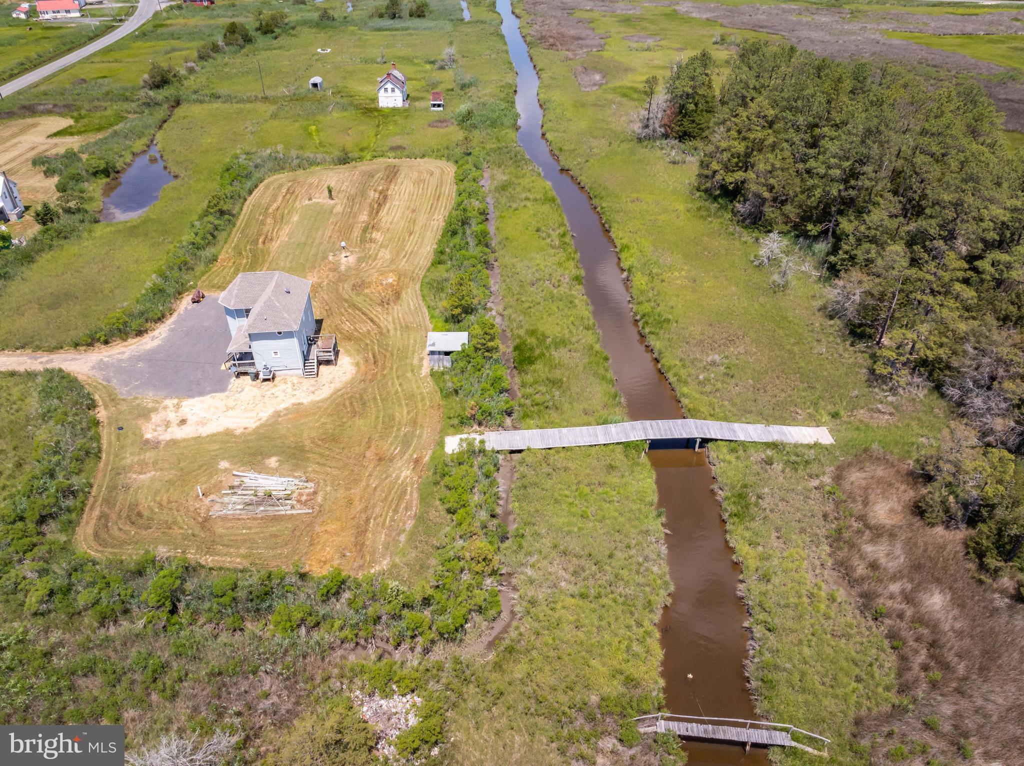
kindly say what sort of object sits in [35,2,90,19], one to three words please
house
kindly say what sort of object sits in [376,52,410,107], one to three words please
house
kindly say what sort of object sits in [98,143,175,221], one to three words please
pond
